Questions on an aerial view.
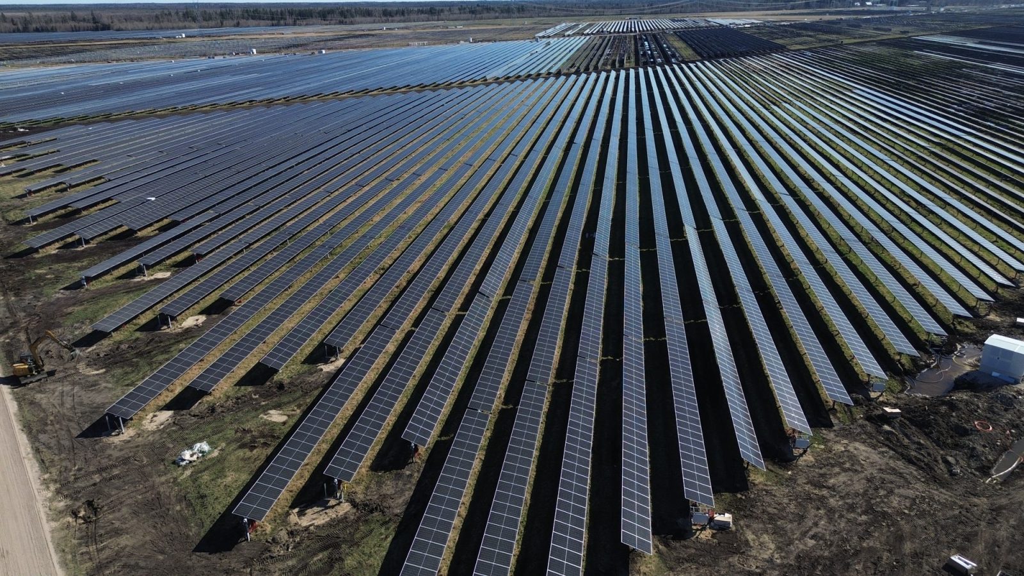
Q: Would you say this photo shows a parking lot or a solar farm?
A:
solar farm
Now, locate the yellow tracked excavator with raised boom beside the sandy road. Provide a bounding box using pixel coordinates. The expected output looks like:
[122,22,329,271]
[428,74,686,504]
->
[7,327,80,388]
